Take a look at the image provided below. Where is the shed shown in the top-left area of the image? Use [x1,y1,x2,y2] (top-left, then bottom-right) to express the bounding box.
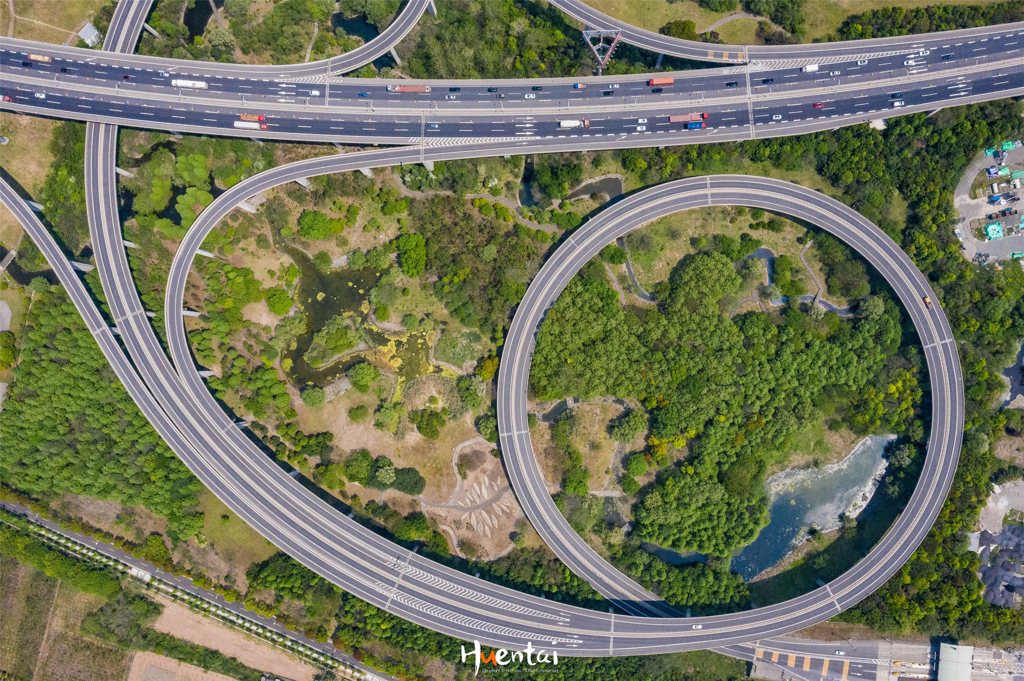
[78,22,105,49]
